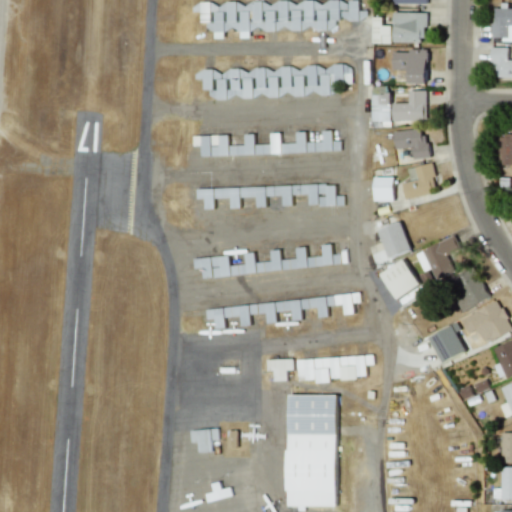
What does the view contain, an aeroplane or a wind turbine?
aeroplane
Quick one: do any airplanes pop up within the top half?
Yes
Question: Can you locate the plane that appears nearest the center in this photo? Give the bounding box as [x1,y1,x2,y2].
[224,248,248,266]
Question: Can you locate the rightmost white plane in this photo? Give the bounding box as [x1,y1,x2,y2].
[370,144,386,164]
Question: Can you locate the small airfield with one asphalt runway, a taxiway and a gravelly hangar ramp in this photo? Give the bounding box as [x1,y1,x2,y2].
[51,0,403,512]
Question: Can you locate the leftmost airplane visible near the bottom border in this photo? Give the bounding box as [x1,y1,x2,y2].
[180,492,204,510]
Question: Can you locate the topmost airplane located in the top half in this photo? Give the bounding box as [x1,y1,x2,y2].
[312,34,336,55]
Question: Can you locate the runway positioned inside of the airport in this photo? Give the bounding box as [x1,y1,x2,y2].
[51,112,103,512]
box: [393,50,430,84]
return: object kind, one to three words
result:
house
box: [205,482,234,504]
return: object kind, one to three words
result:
hangar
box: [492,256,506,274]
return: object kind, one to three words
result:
vehicle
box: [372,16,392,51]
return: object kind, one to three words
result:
building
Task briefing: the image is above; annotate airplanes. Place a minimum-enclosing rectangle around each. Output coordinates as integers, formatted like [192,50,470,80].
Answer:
[276,314,299,330]
[370,144,386,164]
[180,492,204,510]
[224,248,248,266]
[312,34,336,55]
[222,320,246,338]
[262,494,282,512]
[198,321,222,340]
[242,424,266,442]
